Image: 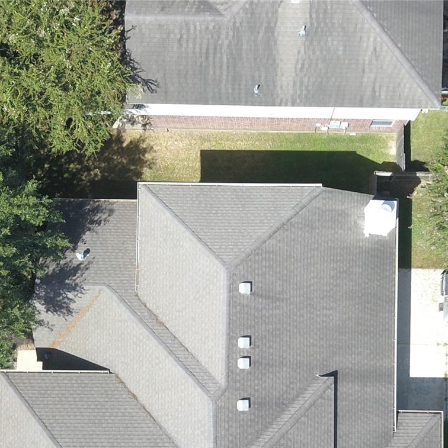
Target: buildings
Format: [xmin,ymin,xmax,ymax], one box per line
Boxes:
[121,0,444,135]
[0,181,446,448]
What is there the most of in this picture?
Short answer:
buildings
